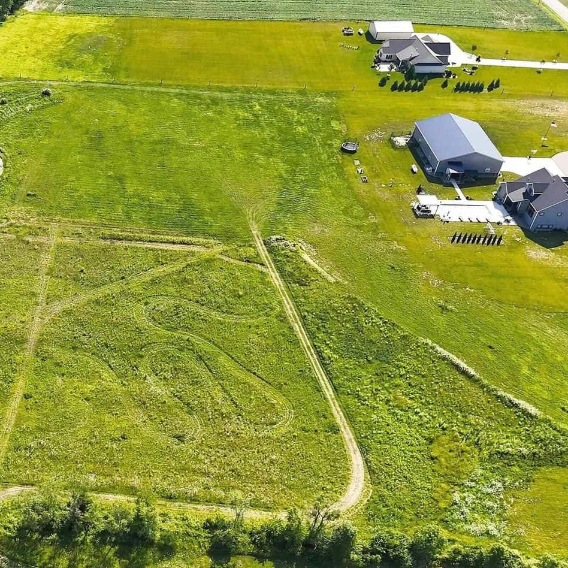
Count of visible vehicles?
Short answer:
0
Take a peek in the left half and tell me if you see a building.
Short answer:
No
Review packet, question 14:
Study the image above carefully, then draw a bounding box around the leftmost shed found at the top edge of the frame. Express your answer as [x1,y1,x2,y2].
[368,22,417,41]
